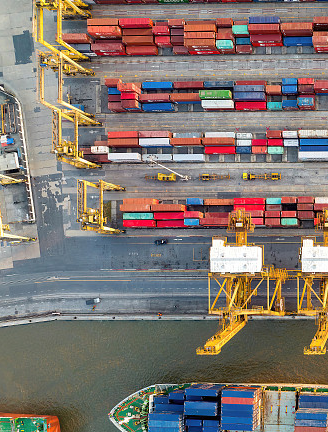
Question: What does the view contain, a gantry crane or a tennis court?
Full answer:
The image shows a gantry crane.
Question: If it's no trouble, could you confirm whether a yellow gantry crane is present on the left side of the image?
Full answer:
Yes, a yellow gantry crane shows up on the left side of the image.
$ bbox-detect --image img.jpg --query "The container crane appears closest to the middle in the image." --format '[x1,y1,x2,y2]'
[80,179,128,235]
